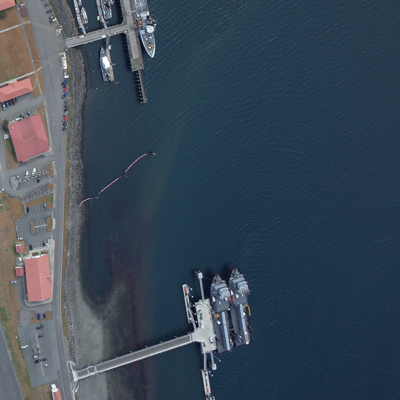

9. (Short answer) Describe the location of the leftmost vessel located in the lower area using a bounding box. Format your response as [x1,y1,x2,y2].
[210,271,235,353]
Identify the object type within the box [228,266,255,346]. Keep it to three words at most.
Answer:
ship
